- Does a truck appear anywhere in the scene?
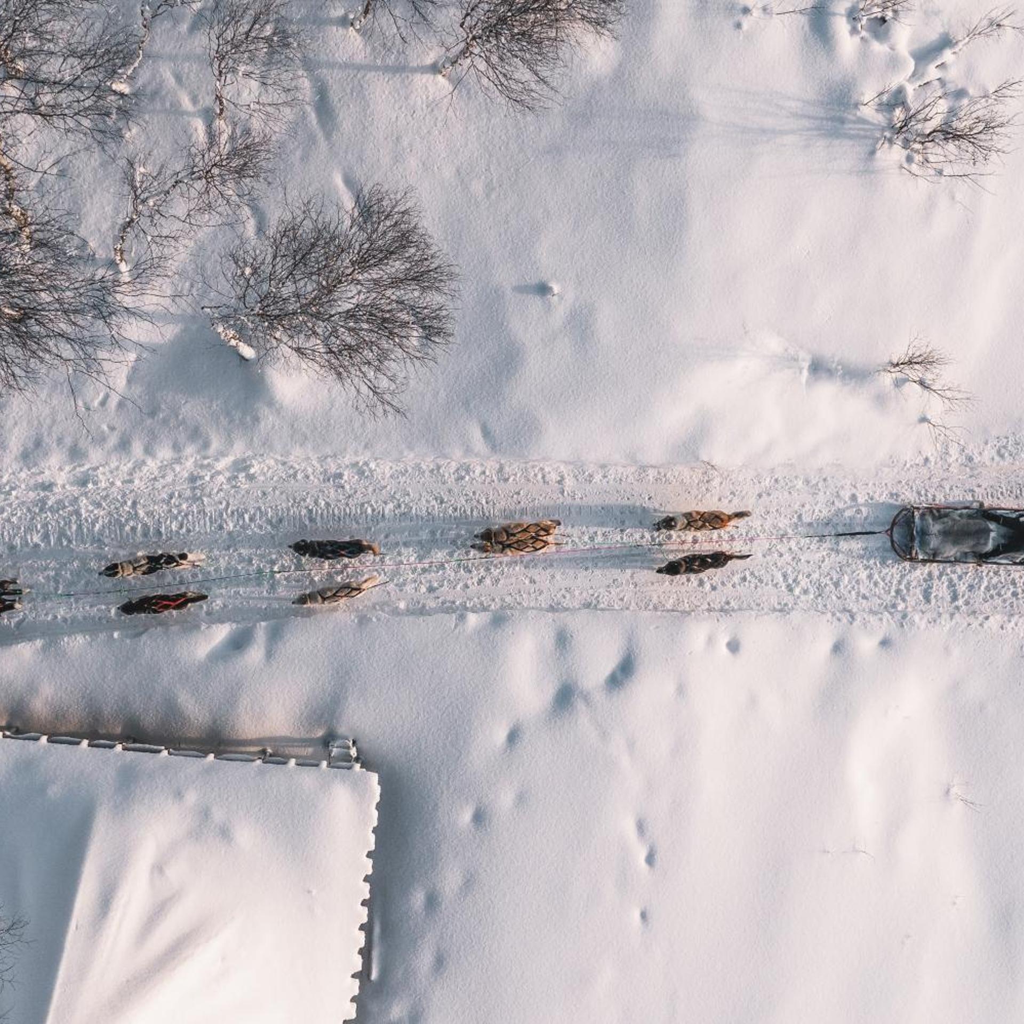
No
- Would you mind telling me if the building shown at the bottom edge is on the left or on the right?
left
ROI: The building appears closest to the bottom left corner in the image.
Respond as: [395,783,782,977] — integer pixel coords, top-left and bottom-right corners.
[0,726,381,1024]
